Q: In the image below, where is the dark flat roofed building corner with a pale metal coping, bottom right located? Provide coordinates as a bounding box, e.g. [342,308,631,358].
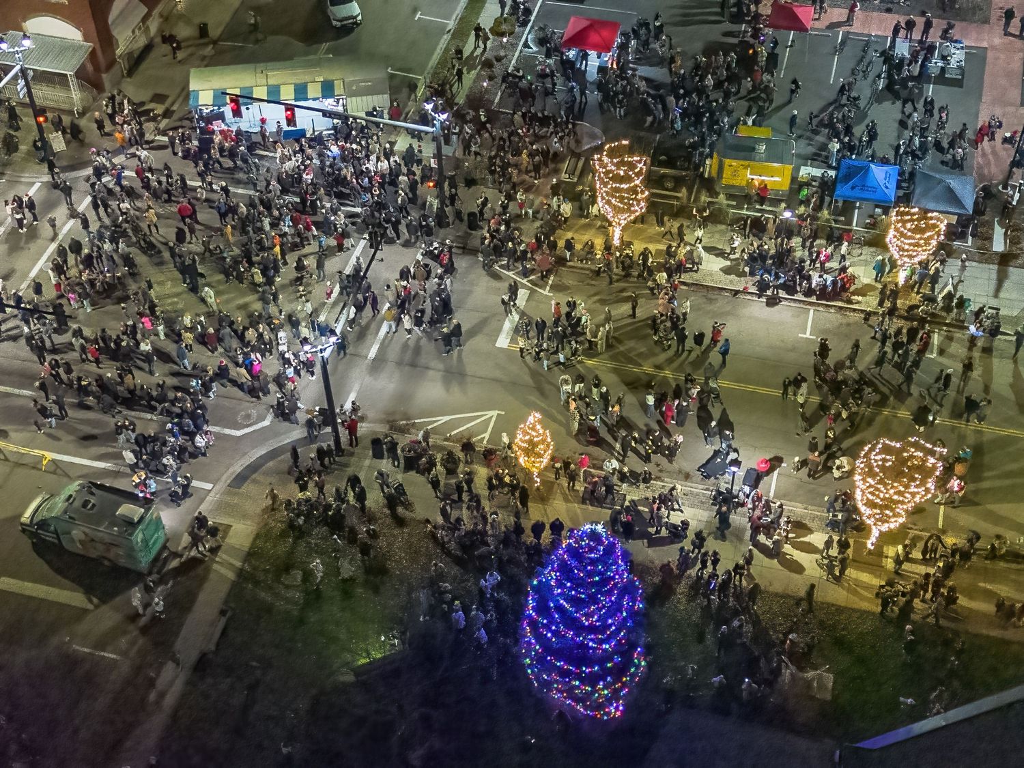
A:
[831,686,1024,768]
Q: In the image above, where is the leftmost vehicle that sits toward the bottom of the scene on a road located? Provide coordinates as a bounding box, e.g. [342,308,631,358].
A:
[15,482,172,580]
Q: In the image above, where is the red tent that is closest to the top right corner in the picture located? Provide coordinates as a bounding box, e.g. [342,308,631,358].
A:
[766,0,814,61]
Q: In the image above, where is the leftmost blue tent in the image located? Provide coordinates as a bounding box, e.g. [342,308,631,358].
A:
[830,159,899,236]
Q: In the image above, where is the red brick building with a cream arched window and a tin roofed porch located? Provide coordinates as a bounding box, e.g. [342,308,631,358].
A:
[0,0,186,117]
